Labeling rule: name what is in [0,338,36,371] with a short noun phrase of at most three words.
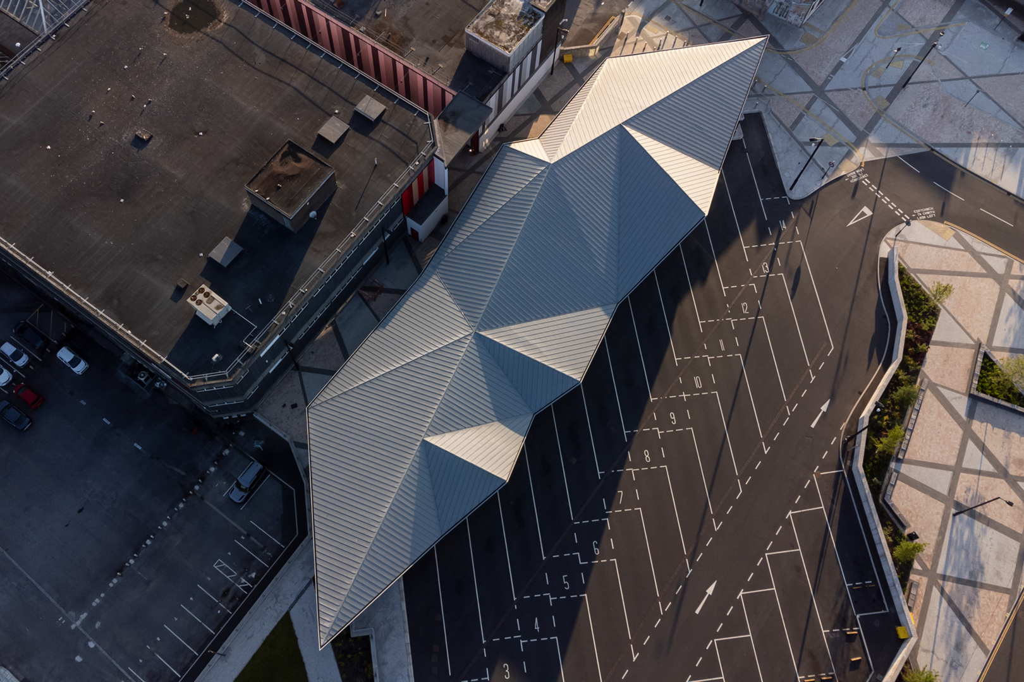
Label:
car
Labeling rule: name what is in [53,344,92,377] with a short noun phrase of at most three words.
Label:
car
